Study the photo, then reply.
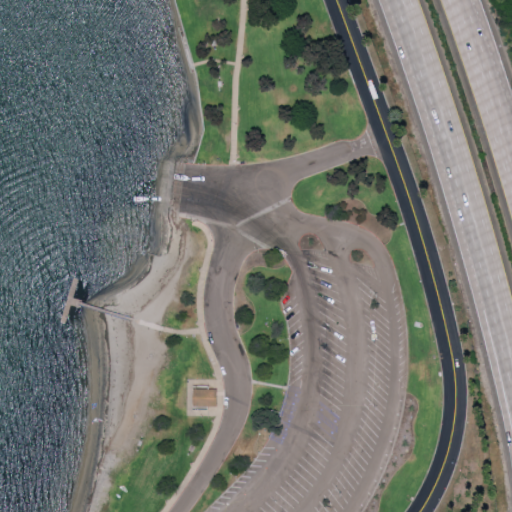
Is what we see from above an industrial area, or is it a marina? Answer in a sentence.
This image shows a marina.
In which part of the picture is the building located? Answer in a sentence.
You can find the building in the bottom area of the picture.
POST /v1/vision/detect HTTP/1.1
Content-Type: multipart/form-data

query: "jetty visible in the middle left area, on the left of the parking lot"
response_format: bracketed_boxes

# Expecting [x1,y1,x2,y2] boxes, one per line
[60,278,141,324]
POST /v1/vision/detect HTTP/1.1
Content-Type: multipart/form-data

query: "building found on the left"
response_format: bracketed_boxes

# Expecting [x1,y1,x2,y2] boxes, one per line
[192,387,217,410]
